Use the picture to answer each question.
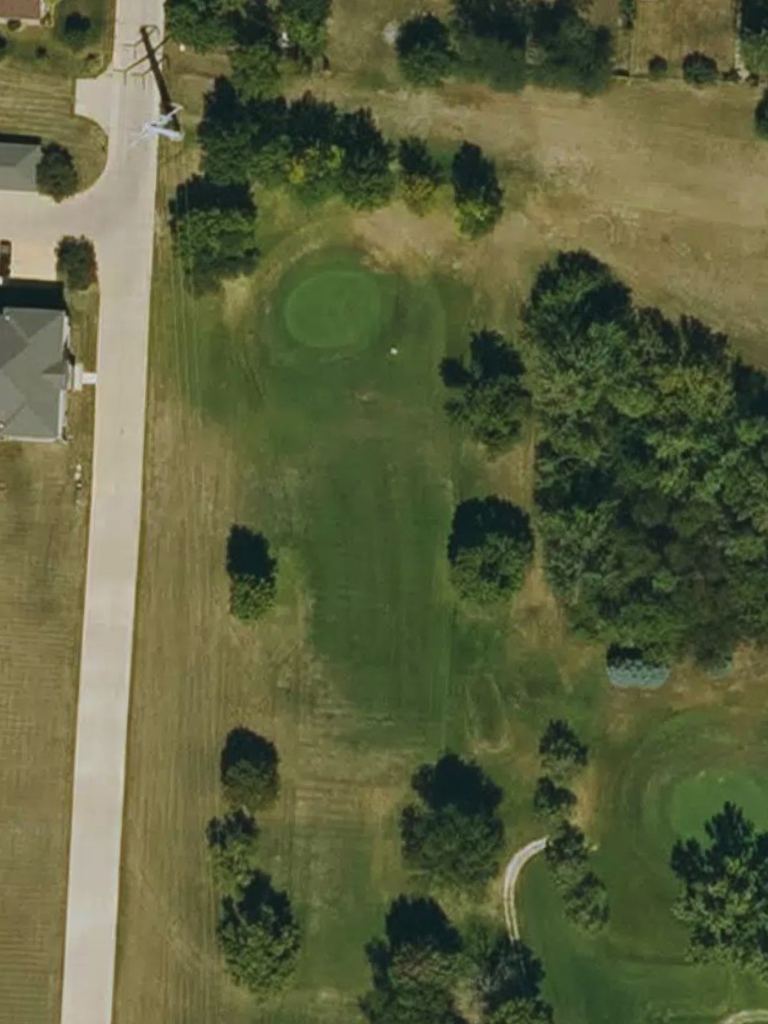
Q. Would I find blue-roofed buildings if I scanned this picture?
No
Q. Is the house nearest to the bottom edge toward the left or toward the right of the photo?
left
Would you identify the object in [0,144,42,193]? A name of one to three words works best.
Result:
building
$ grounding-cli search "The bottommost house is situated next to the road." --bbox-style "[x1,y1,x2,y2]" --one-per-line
[0,308,85,439]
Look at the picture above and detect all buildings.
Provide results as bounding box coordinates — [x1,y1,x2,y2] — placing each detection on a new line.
[0,144,42,193]
[0,308,85,439]
[0,0,42,21]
